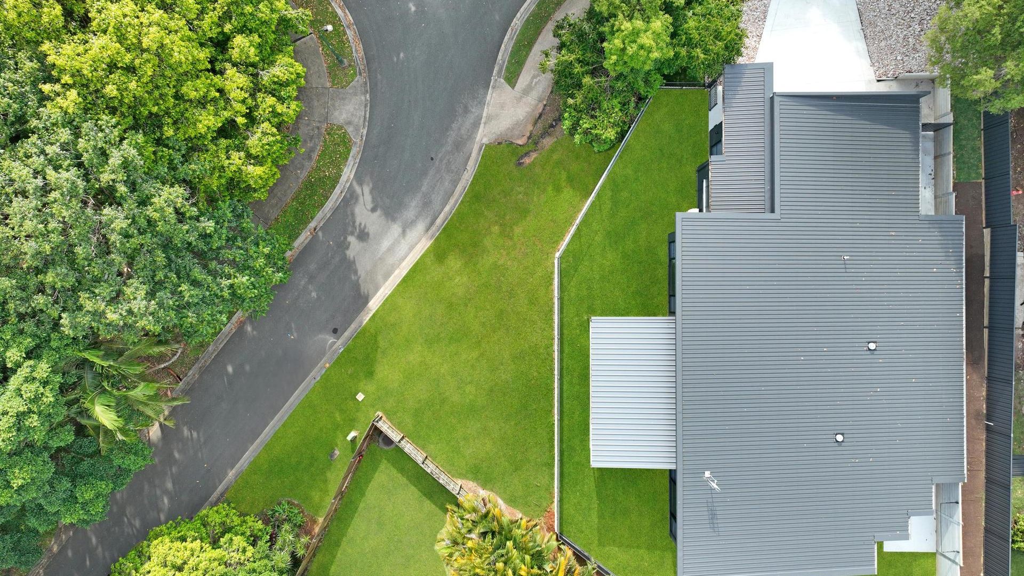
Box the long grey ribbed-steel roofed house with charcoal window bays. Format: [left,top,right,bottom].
[668,62,967,576]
